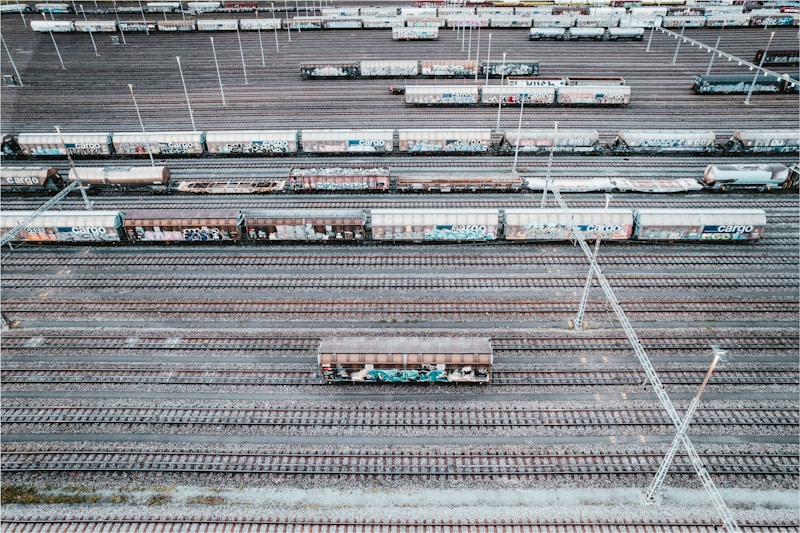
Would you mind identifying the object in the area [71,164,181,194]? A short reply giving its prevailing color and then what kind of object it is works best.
white rail car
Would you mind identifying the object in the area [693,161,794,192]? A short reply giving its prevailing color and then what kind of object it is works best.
white rail car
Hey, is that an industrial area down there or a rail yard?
rail yard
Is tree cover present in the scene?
No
